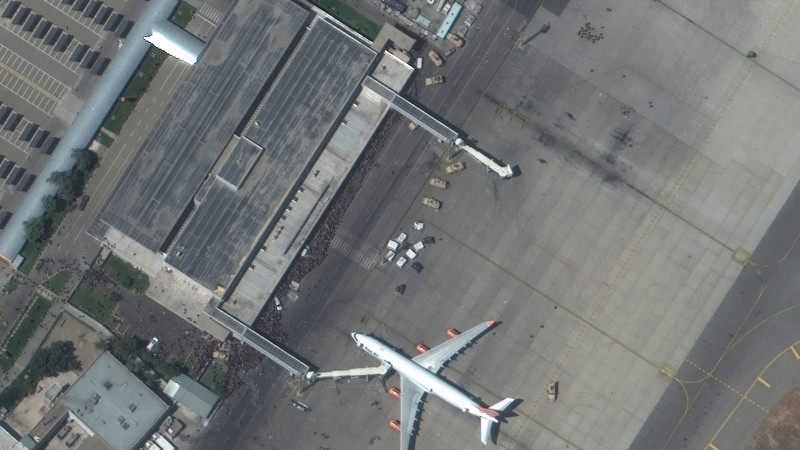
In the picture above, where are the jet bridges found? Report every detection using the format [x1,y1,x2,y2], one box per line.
[203,297,311,378]
[454,137,513,177]
[305,359,390,384]
[361,76,459,146]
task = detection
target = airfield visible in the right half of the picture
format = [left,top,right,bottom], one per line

[259,0,800,450]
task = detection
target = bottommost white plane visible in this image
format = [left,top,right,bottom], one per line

[351,325,514,450]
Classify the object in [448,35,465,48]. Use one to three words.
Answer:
vehicle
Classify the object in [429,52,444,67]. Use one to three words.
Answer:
vehicle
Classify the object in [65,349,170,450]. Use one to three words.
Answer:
building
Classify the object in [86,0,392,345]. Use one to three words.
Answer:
building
